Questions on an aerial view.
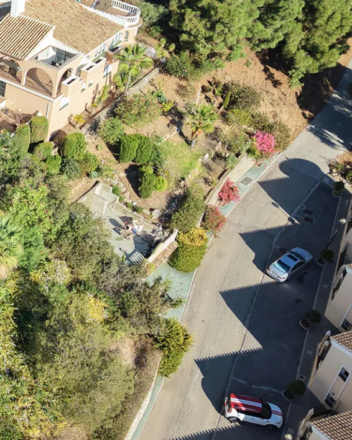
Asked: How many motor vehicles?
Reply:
2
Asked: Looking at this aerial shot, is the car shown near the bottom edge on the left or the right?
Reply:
right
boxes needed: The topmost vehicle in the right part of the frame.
[268,250,317,284]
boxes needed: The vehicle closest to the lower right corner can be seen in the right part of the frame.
[226,396,284,434]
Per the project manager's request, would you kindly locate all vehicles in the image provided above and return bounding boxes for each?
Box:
[268,250,317,284]
[226,396,284,434]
